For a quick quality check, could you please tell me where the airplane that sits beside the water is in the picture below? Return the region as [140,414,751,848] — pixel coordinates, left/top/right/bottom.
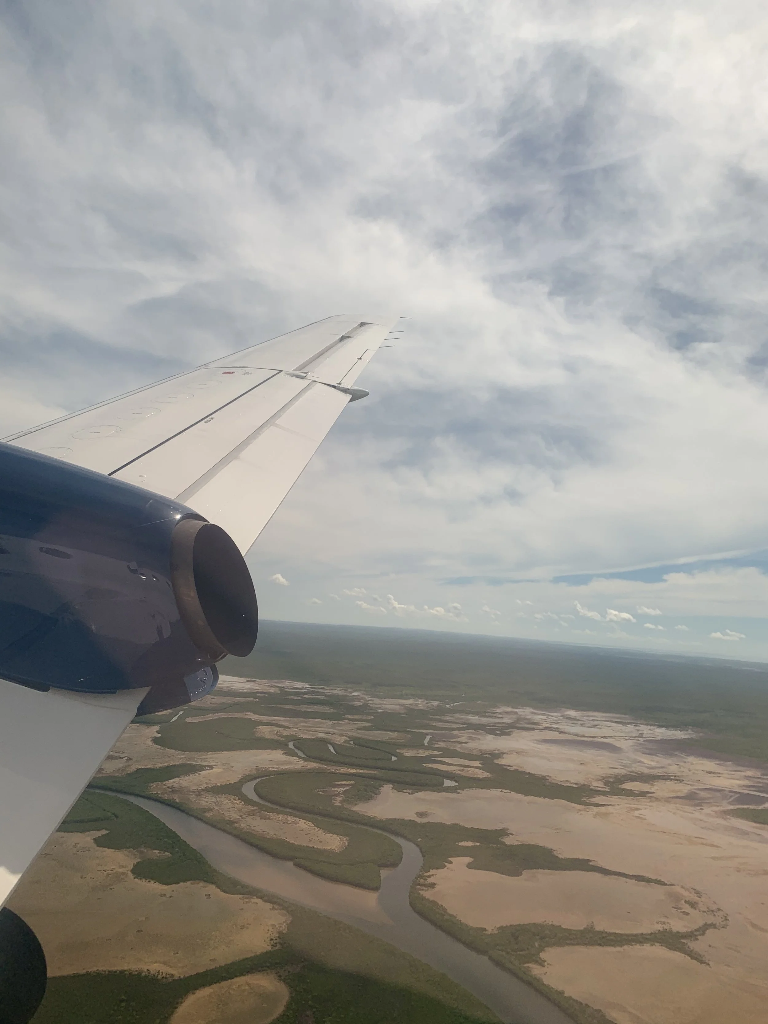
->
[0,314,408,1024]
